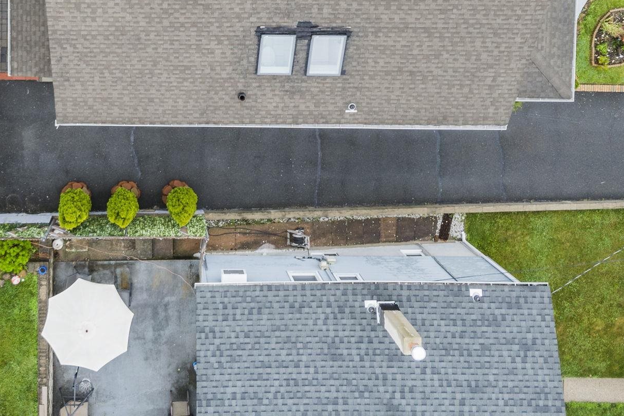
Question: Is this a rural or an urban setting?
urban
